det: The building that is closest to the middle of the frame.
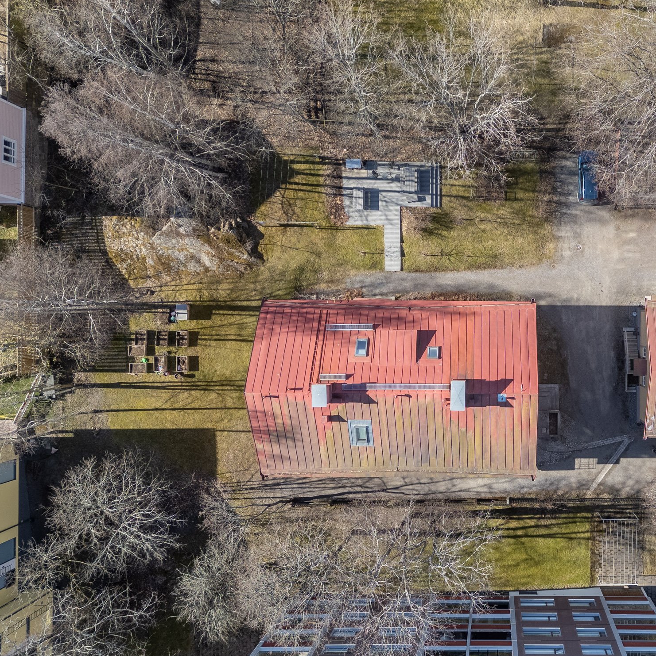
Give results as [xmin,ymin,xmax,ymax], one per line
[244,296,540,482]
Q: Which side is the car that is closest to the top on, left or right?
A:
right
